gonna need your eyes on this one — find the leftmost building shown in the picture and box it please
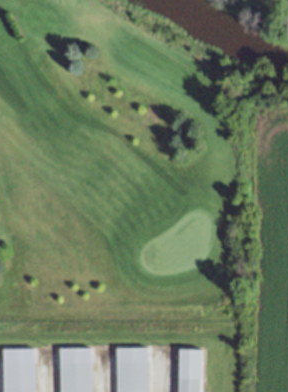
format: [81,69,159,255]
[2,348,36,392]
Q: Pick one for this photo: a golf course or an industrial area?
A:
golf course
